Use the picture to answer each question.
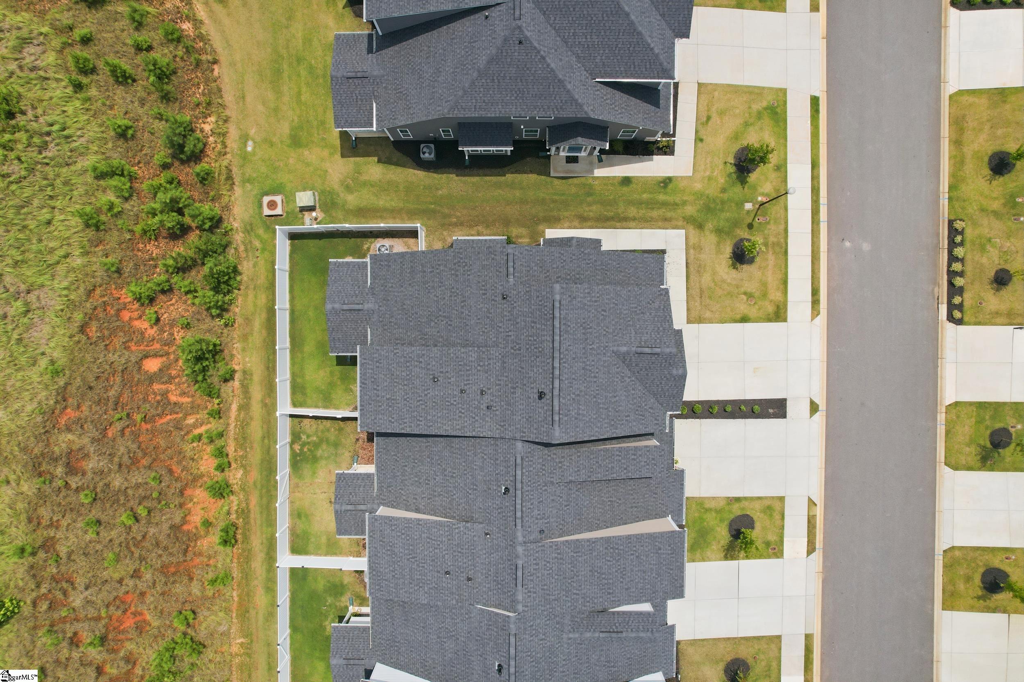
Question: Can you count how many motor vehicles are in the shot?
0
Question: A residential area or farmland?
residential area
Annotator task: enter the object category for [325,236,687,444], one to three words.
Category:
house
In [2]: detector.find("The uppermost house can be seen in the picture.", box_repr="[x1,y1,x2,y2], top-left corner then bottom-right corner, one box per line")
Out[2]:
[331,0,693,160]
